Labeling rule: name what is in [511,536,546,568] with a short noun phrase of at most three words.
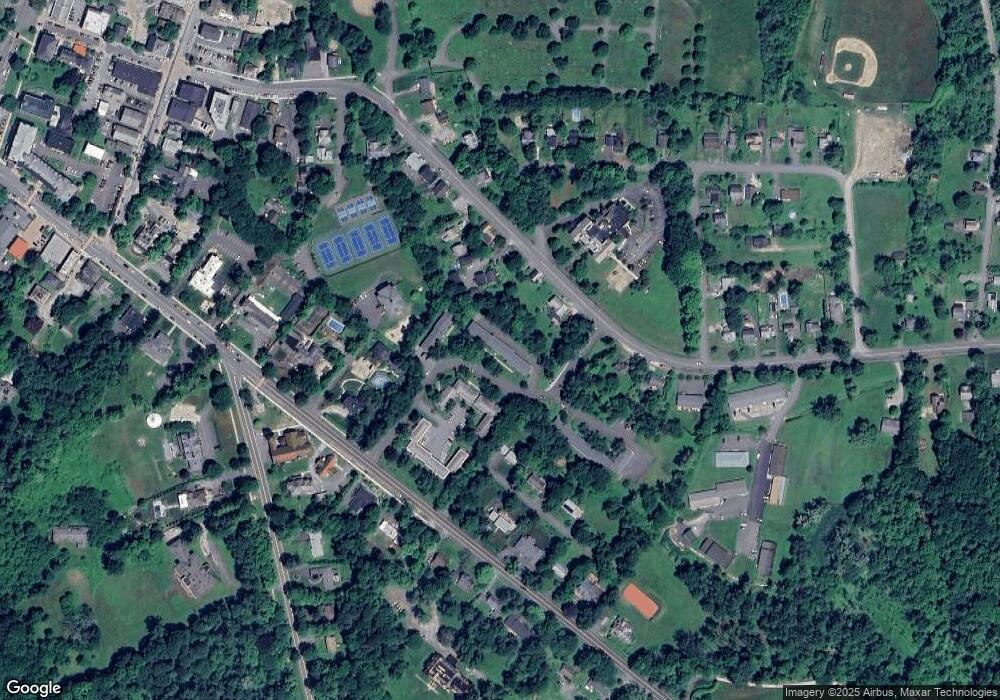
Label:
house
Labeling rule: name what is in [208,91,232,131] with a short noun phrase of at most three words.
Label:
building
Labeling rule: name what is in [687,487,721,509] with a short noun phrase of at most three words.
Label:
building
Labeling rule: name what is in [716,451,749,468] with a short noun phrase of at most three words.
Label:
shed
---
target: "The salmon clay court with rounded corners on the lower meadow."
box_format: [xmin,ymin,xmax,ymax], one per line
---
[620,581,662,621]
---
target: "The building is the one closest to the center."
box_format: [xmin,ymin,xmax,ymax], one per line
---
[466,323,532,376]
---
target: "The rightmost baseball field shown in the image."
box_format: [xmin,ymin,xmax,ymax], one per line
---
[819,0,939,103]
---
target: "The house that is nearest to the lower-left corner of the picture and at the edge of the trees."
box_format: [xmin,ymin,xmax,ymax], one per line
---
[52,529,88,550]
